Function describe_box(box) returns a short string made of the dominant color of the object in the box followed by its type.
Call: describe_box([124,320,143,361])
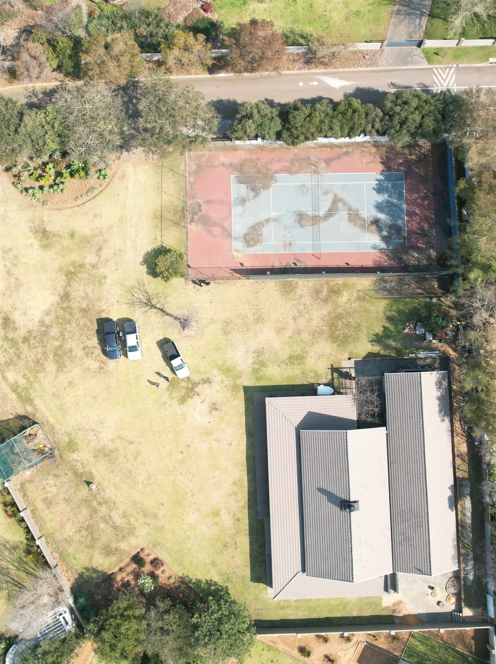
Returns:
white vehicle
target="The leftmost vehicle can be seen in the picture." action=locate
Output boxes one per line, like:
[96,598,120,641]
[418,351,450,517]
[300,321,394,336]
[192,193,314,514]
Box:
[103,320,123,361]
